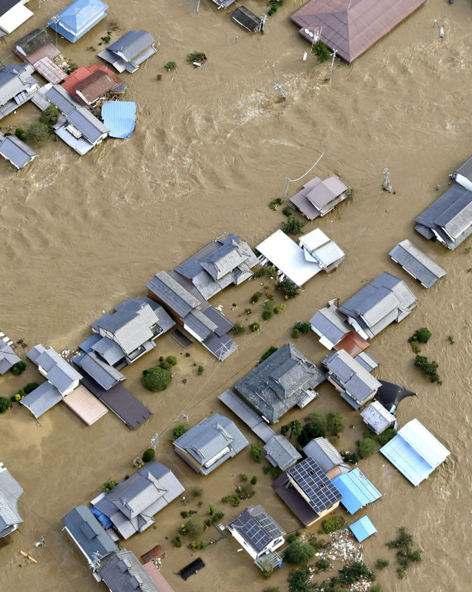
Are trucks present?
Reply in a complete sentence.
No, no truck is visible in the view.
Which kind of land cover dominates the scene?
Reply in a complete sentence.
The scene is dominated by water.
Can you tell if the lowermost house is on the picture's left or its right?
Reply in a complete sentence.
The lowermost house is on the left side of the image.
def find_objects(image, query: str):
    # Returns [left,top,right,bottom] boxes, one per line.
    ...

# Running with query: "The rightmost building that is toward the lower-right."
[379,421,452,488]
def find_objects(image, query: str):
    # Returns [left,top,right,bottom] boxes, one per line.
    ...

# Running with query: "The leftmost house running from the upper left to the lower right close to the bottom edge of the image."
[61,506,117,568]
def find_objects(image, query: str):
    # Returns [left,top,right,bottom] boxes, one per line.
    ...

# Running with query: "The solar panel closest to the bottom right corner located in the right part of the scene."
[289,458,340,511]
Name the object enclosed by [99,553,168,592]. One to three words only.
house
